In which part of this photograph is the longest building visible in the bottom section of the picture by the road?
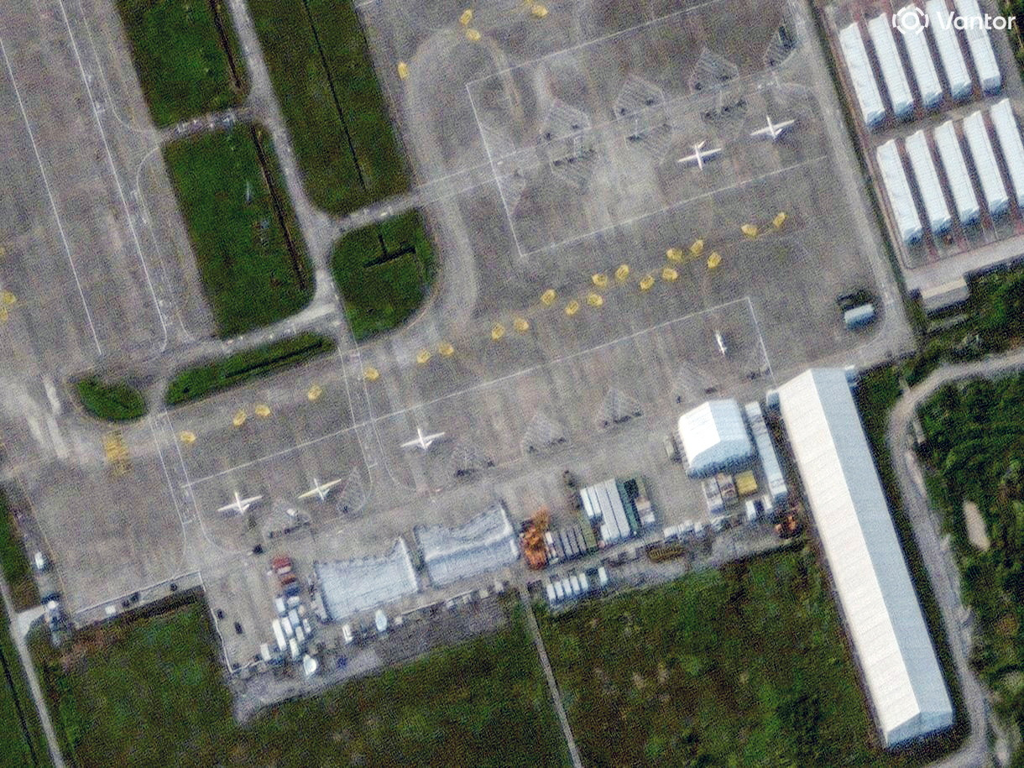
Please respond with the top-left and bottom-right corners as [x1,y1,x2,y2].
[766,368,952,743]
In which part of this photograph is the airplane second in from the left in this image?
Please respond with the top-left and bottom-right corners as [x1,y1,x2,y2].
[298,479,341,501]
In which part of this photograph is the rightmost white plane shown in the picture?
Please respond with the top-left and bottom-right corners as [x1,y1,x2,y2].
[750,118,793,138]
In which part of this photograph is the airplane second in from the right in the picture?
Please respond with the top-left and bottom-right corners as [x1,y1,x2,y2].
[677,143,721,167]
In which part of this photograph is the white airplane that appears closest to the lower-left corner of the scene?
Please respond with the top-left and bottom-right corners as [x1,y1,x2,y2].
[218,493,261,514]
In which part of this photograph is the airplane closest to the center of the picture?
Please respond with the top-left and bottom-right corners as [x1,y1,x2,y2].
[401,429,444,450]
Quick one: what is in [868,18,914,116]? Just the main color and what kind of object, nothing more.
white tent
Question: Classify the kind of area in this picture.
airport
